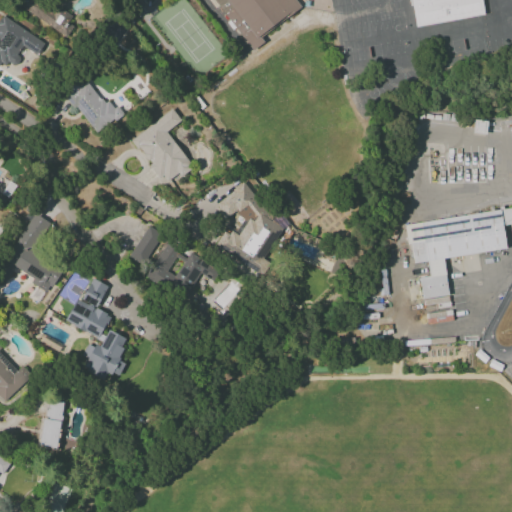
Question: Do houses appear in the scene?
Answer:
Yes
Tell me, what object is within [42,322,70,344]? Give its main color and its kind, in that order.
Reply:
blue swimming pool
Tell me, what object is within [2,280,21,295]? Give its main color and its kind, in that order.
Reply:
blue swimming pool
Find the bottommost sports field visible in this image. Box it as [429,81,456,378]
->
[134,380,512,512]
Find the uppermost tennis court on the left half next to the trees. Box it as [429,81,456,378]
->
[154,0,226,72]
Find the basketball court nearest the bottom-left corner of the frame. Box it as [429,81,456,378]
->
[60,276,90,304]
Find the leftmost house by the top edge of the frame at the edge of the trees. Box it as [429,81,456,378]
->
[0,16,48,66]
